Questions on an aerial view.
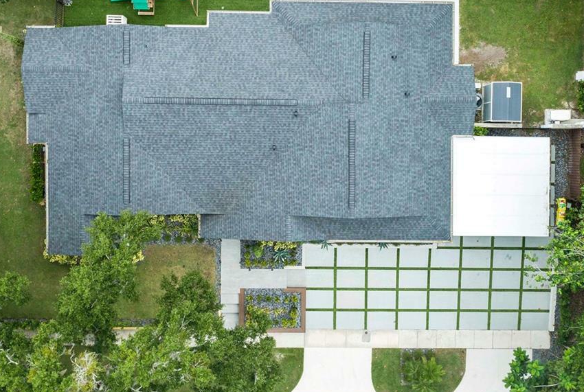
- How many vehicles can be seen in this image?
0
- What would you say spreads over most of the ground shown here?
buildings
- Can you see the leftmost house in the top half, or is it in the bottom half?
top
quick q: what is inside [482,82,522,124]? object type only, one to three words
shed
